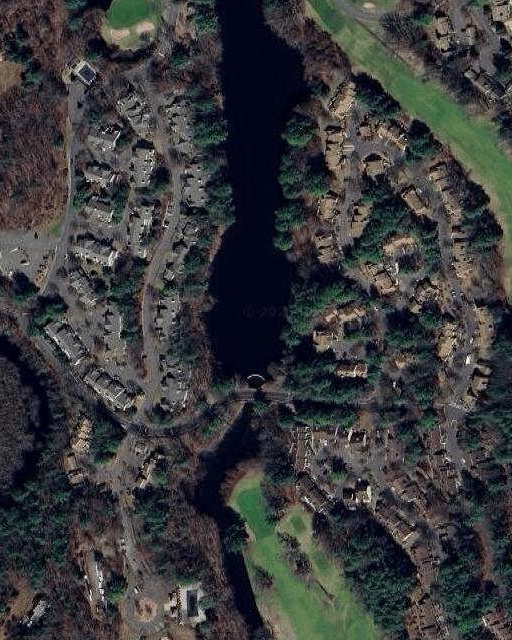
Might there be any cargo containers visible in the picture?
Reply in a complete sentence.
No, there isn't any cargo container down there.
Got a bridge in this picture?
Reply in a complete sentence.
No, there is no bridge in the image.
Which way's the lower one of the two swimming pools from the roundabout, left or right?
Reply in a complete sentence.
Looking at the photo, the lower one of the two swimming pools lies to the right of the roundabout.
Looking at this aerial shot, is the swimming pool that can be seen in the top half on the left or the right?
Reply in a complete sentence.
The swimming pool that can be seen in the top half sits on the left side.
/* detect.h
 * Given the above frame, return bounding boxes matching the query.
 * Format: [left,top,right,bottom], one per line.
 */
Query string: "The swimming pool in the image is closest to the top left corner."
[74,62,100,86]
